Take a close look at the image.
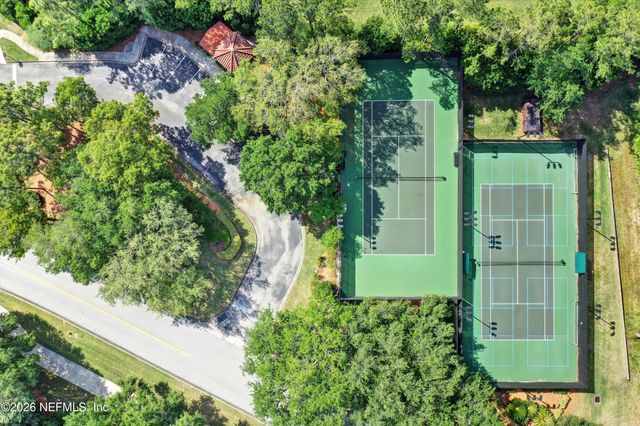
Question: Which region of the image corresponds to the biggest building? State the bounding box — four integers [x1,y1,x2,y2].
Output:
[199,21,259,81]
